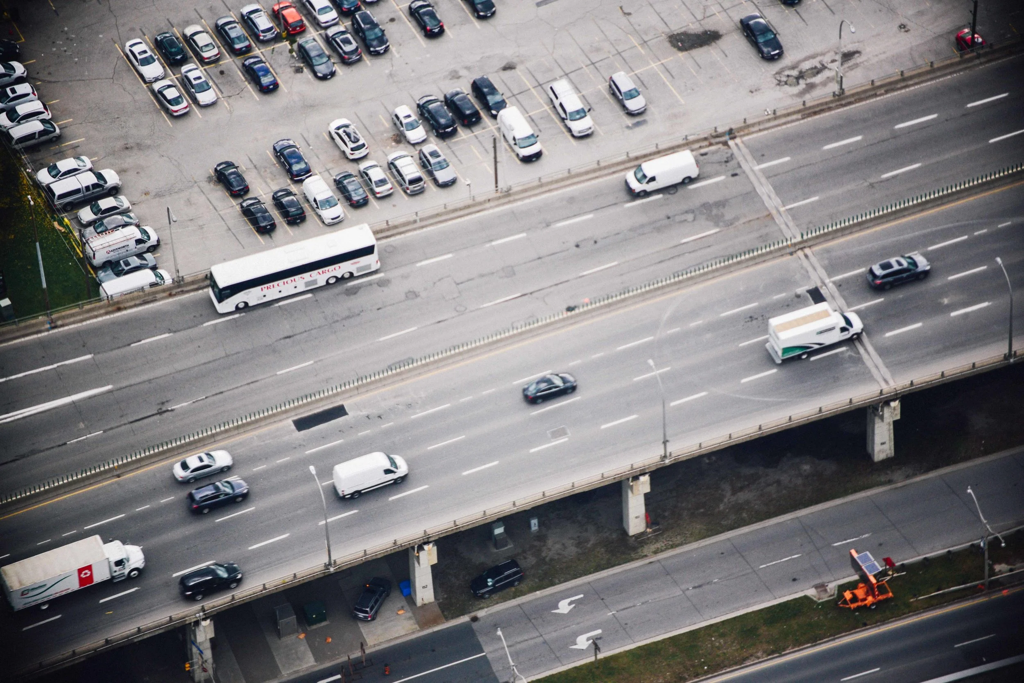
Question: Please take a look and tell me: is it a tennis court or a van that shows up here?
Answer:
van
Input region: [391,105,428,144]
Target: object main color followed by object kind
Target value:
white car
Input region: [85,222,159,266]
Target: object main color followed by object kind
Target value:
white van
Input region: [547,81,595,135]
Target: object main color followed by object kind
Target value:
white truck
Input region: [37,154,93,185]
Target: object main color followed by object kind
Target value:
white car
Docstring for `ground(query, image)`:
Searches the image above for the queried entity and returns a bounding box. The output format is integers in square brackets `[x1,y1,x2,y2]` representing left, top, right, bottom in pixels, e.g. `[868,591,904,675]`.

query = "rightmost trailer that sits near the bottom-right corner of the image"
[835,549,894,613]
